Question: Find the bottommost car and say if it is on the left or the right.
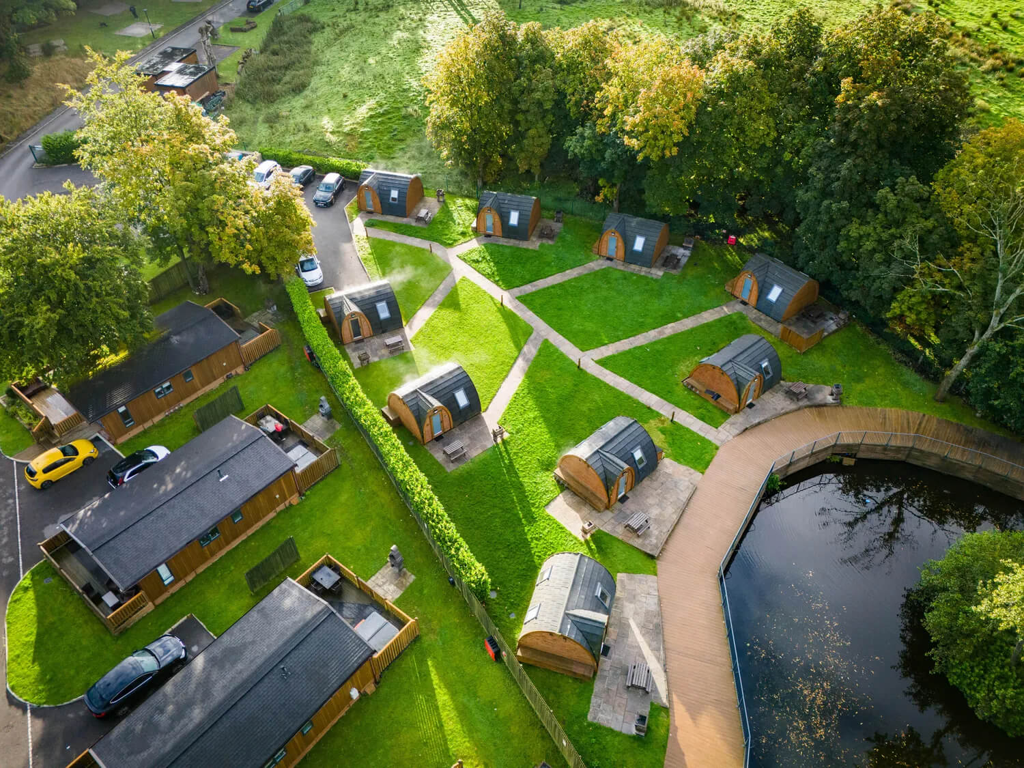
left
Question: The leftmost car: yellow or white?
yellow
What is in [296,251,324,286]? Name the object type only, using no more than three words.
car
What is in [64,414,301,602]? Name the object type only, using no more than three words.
building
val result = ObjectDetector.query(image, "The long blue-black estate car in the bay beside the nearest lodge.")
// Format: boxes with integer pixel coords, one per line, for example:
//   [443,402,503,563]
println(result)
[88,634,191,710]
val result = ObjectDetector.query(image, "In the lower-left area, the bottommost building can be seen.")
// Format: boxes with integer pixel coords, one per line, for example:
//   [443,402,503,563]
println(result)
[89,578,377,768]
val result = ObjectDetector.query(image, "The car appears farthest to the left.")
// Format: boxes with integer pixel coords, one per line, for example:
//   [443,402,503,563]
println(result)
[28,439,98,486]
